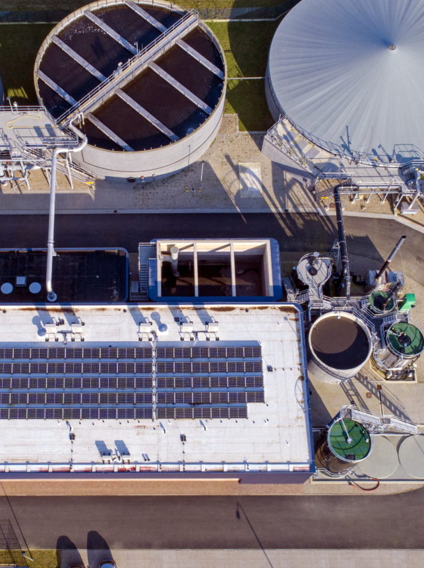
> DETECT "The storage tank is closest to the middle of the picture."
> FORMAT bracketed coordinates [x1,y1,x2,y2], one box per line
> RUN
[294,246,334,300]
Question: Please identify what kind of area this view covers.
industrial area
